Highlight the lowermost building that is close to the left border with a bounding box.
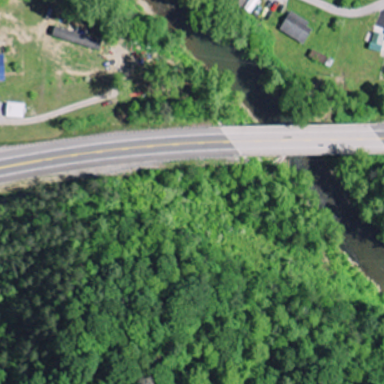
[6,101,28,118]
